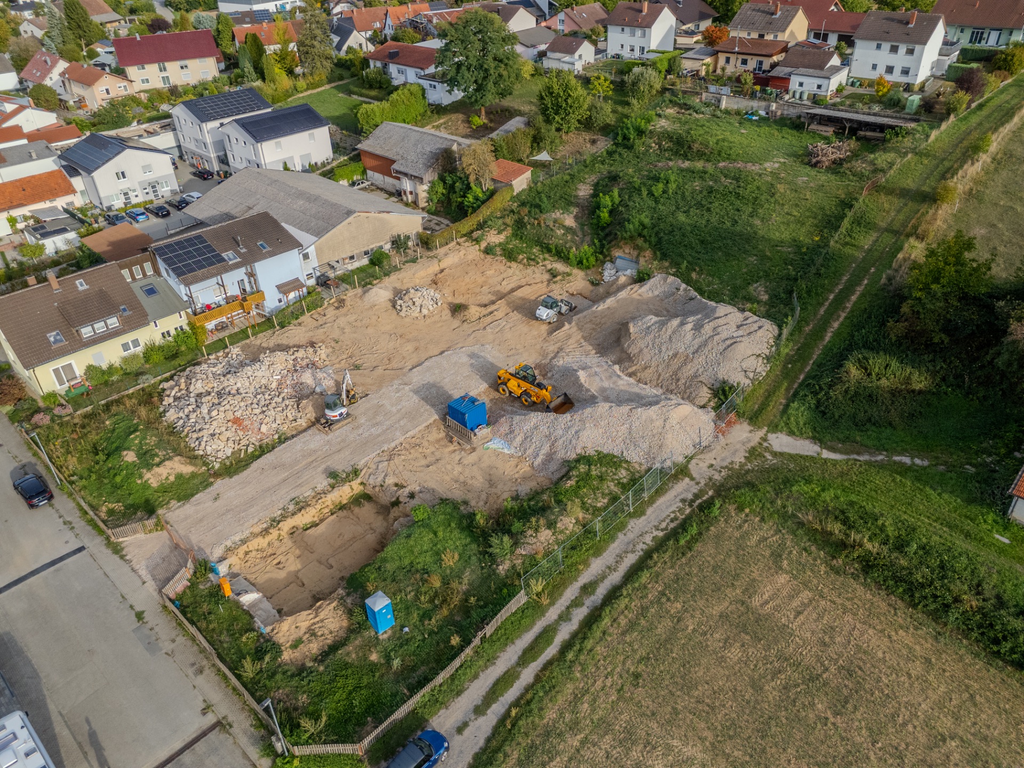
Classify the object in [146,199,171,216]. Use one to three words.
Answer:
car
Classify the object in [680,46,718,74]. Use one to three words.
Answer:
shed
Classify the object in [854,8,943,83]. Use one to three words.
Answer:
house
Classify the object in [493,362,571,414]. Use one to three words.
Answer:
work vehicle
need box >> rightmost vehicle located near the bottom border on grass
[387,733,453,768]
